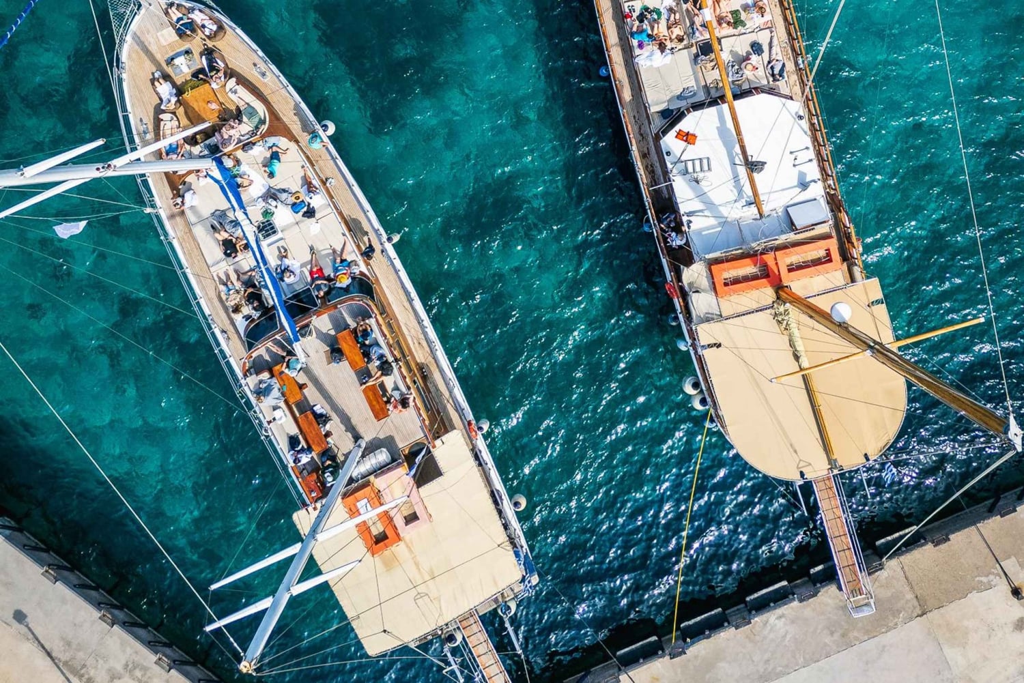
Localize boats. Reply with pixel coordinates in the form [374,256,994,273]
[594,0,1024,561]
[0,0,537,671]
